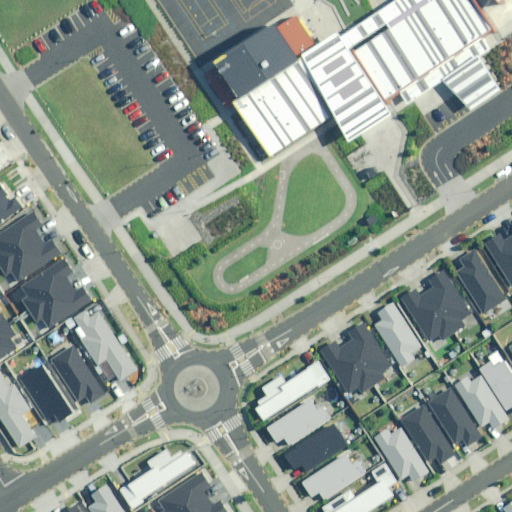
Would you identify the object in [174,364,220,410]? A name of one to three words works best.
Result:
roundabout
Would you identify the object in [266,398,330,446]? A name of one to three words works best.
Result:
house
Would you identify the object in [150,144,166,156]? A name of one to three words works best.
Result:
vehicle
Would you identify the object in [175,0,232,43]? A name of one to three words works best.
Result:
sports court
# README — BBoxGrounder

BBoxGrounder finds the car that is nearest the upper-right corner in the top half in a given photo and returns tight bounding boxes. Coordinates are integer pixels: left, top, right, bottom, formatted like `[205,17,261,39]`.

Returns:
[432,106,444,124]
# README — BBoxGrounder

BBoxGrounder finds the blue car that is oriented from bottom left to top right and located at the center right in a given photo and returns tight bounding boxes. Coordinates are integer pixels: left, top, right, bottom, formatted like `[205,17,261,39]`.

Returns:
[480,212,498,226]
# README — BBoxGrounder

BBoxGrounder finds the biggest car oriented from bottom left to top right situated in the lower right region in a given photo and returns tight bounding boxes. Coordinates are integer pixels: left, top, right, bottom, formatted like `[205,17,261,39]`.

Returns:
[427,485,444,498]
